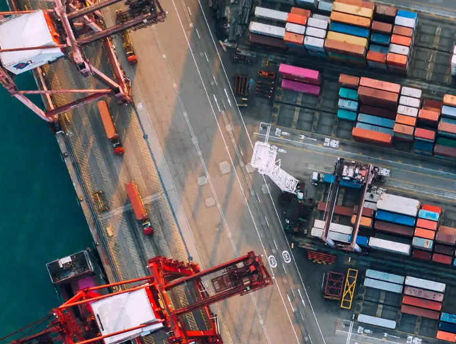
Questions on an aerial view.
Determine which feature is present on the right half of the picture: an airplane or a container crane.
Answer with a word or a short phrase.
container crane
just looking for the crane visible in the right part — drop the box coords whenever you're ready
[325,153,382,252]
